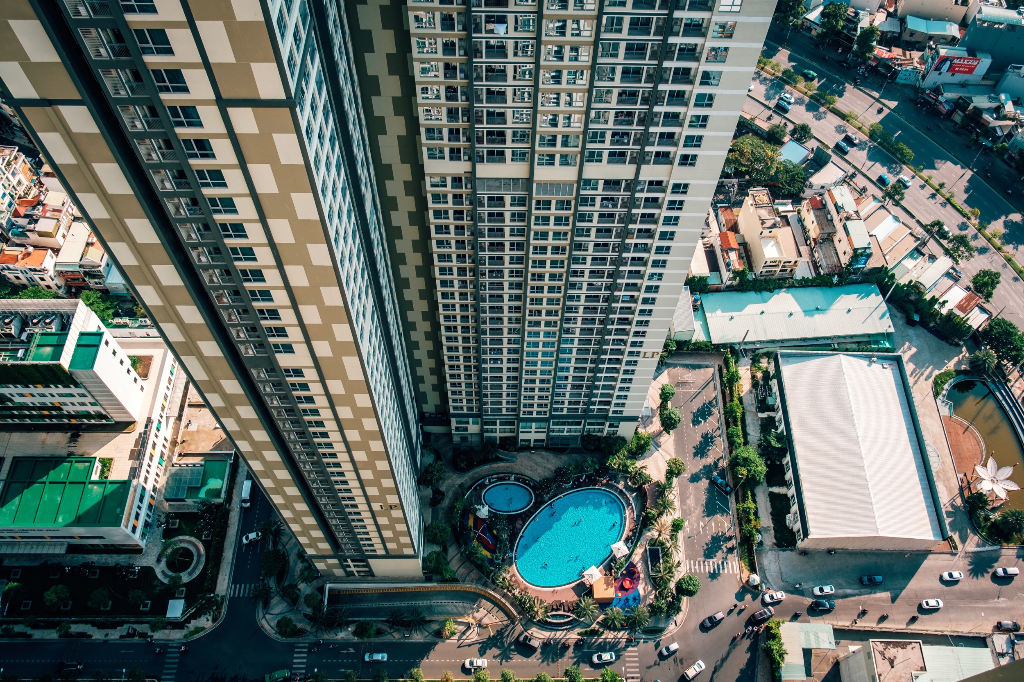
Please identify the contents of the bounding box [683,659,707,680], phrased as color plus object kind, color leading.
white car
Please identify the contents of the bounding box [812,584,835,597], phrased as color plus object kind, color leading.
white vehicle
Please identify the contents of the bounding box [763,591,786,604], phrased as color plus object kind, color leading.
white vehicle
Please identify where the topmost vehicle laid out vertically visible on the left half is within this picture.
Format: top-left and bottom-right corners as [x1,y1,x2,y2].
[240,479,253,507]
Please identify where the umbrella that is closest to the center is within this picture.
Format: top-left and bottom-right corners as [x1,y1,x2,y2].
[475,505,488,519]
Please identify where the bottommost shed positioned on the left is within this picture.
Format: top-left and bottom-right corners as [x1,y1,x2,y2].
[167,599,189,620]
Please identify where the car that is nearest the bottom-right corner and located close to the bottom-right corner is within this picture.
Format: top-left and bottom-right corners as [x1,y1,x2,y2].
[996,620,1023,632]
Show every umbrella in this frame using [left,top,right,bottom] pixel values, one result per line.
[611,541,629,559]
[582,565,602,584]
[475,505,488,519]
[748,574,760,586]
